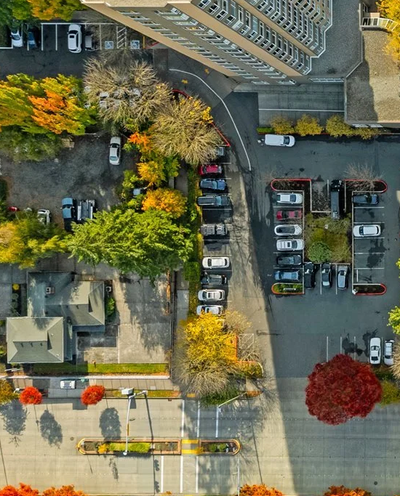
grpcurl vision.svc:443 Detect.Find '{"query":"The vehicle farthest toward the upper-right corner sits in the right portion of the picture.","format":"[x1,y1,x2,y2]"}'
[264,133,294,146]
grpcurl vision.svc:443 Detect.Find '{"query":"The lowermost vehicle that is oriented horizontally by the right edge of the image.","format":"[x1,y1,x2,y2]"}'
[353,224,382,236]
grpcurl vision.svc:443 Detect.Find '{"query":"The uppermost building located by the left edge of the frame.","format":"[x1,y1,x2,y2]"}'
[6,271,113,363]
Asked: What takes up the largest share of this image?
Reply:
paved ground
